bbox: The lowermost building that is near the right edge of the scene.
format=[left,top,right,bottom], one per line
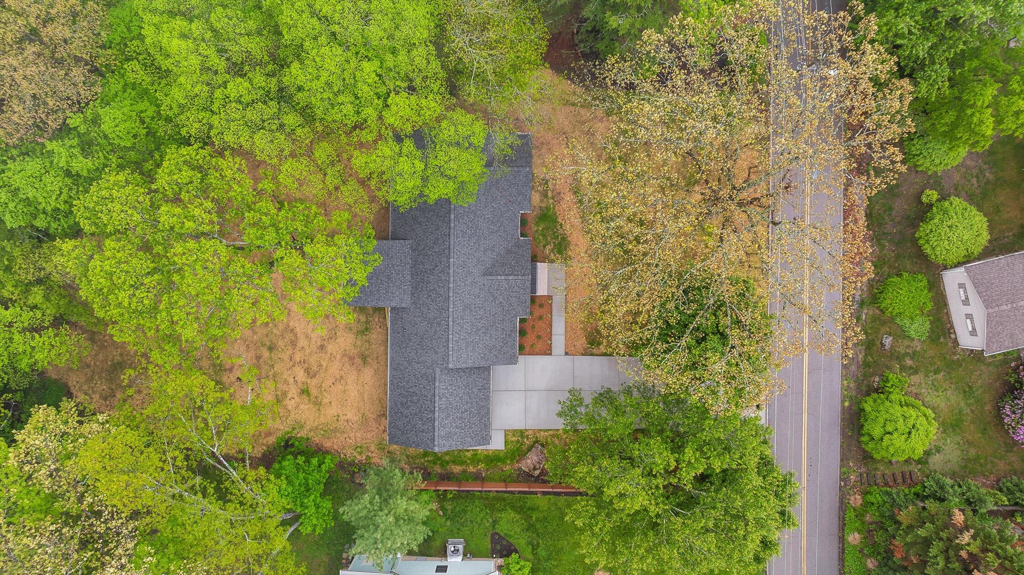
[941,249,1024,357]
